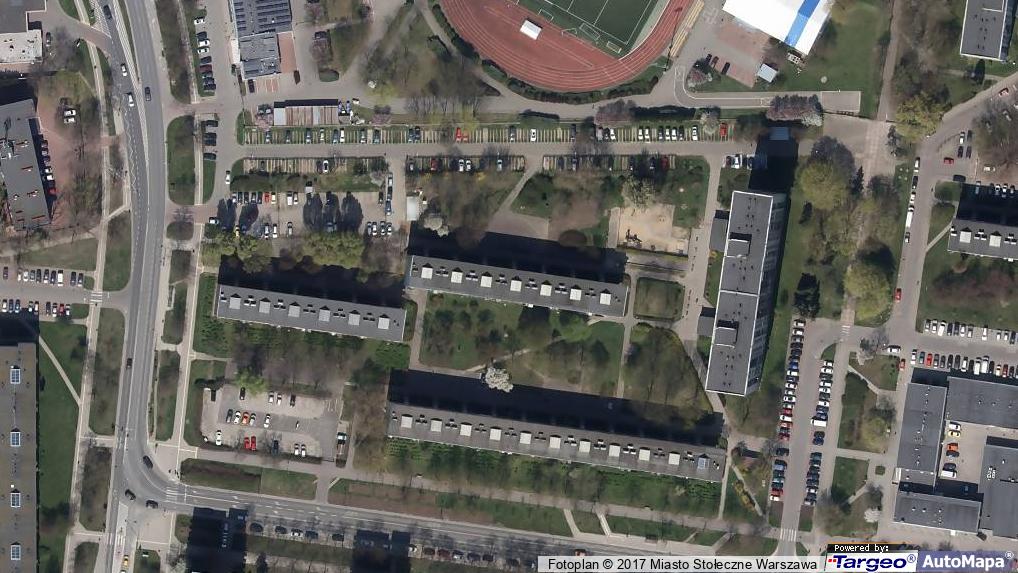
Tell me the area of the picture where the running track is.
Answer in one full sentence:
The running track sits in the top section of the image.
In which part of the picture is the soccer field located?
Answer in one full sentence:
The soccer field sits in the top section of the image.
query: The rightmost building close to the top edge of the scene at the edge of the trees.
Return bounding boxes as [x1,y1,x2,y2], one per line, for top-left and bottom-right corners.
[959,0,1012,61]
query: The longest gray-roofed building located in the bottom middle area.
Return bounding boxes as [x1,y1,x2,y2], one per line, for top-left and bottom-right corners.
[388,403,732,482]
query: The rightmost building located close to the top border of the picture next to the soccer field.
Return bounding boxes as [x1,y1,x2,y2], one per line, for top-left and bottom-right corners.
[722,0,836,55]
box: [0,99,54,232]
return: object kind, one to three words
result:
building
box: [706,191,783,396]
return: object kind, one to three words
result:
building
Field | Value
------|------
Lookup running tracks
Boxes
[439,0,699,95]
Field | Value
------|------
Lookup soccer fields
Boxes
[520,0,669,60]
